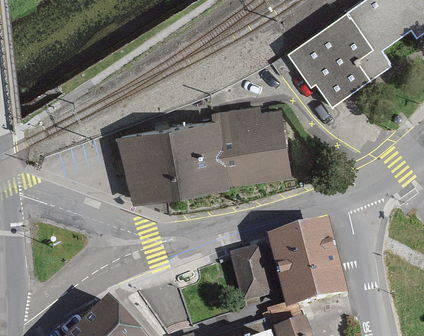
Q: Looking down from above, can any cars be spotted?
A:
Yes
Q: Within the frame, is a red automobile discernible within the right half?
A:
Yes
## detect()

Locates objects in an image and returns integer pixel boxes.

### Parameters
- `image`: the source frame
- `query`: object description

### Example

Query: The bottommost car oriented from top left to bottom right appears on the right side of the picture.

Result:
[310,101,332,125]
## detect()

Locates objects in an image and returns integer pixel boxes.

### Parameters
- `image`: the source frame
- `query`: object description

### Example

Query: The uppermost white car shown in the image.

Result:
[241,79,262,96]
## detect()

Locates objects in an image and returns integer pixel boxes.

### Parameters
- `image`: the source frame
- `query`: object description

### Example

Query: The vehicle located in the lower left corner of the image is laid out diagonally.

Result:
[59,313,82,334]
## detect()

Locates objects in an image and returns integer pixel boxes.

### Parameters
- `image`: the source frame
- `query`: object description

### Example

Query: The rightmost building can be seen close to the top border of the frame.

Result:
[348,0,424,82]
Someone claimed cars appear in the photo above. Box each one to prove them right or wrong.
[294,76,312,97]
[258,66,280,88]
[310,101,332,125]
[241,79,262,96]
[59,313,82,334]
